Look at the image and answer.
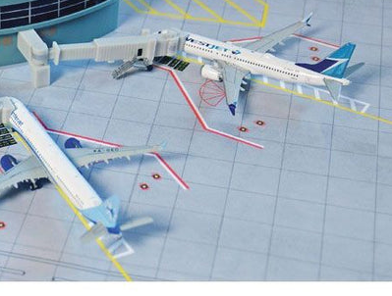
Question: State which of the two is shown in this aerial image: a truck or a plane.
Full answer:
Looking from above, you can make out a plane.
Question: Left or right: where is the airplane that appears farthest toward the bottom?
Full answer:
The airplane that appears farthest toward the bottom is on the left side of the image.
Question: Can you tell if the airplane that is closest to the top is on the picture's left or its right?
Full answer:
It is on the right.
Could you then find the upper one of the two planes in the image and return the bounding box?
[189,13,354,115]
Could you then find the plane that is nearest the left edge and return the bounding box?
[0,102,162,241]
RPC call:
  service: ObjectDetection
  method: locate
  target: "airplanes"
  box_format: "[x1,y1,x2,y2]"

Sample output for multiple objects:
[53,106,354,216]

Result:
[0,102,162,241]
[189,13,354,115]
